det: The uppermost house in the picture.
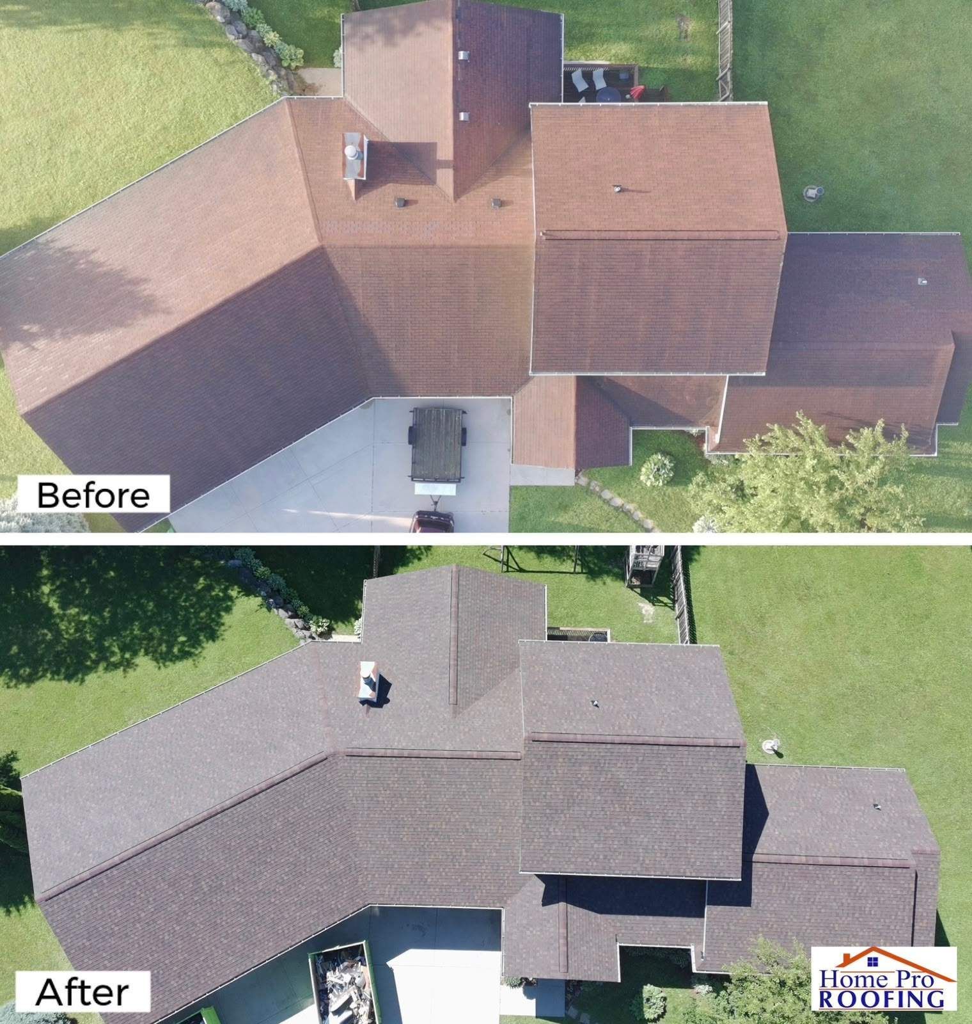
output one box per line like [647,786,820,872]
[0,0,972,538]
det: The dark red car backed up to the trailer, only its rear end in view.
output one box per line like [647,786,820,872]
[410,510,454,533]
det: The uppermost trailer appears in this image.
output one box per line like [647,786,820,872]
[405,408,467,510]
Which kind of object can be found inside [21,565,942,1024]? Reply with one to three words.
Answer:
house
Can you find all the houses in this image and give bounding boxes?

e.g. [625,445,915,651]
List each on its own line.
[21,565,942,1024]
[0,0,972,538]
